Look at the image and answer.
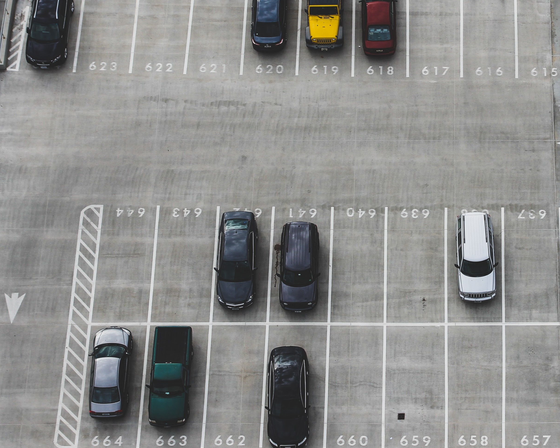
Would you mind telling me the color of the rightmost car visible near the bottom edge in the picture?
black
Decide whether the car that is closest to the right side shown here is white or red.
white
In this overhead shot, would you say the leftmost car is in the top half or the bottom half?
top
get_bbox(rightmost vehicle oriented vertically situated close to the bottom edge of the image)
[262,345,312,448]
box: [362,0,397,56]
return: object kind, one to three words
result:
car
